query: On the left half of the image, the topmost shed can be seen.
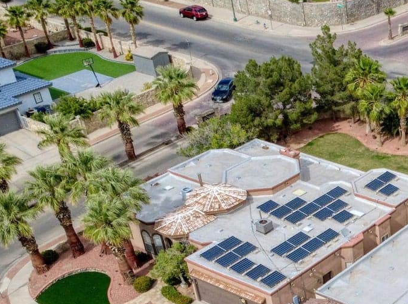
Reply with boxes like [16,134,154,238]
[130,42,170,75]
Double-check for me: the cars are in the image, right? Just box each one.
[211,81,243,104]
[179,5,210,21]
